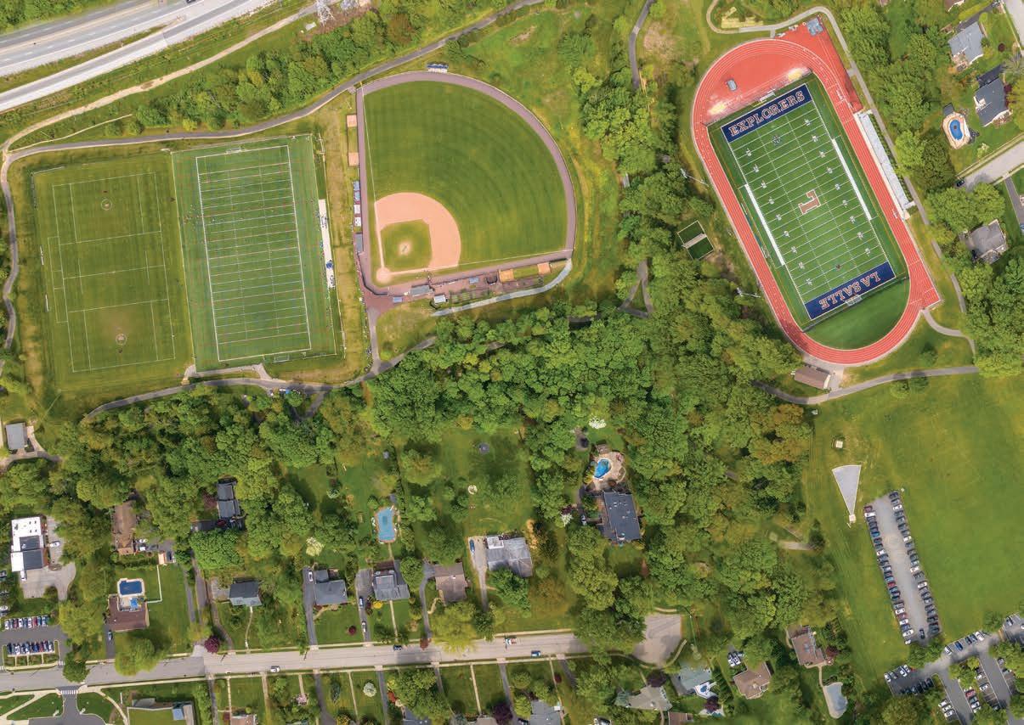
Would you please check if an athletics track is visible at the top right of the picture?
Yes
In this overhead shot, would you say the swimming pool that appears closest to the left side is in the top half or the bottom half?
bottom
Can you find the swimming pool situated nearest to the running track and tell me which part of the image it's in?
top right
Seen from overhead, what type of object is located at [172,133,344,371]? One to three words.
sports field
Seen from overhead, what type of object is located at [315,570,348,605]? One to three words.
house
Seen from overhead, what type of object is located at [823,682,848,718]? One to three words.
swimming pool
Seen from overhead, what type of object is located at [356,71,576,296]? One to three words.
baseball field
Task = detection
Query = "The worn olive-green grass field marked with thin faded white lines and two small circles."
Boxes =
[34,153,194,397]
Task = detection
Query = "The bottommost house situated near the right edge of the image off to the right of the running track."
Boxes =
[967,219,1006,259]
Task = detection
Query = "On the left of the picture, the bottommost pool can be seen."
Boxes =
[118,579,144,610]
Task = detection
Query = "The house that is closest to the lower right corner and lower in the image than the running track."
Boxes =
[792,633,825,666]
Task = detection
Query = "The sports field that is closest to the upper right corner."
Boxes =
[706,75,907,349]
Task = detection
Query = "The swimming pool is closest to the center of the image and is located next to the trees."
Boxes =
[592,452,625,491]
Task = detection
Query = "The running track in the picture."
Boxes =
[687,17,940,367]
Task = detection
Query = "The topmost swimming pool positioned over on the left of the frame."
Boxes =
[375,506,397,544]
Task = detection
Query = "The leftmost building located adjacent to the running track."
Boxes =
[795,366,831,388]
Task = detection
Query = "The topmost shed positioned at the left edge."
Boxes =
[5,423,28,449]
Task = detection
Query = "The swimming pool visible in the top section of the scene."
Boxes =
[943,112,971,149]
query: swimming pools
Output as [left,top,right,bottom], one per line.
[592,452,625,491]
[943,112,971,149]
[375,506,397,544]
[823,682,848,718]
[118,579,144,610]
